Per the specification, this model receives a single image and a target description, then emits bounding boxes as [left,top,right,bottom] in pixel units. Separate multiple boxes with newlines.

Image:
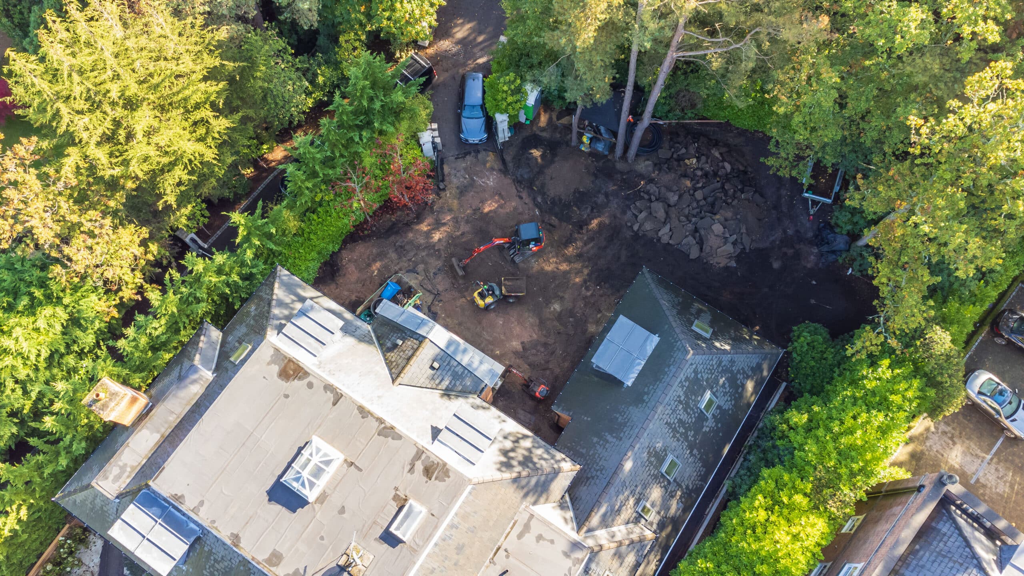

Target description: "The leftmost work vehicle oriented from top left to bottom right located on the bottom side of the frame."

[505,368,551,406]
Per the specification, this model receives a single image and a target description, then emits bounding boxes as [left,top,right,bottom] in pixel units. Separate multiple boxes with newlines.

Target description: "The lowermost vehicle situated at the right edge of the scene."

[957,373,1024,447]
